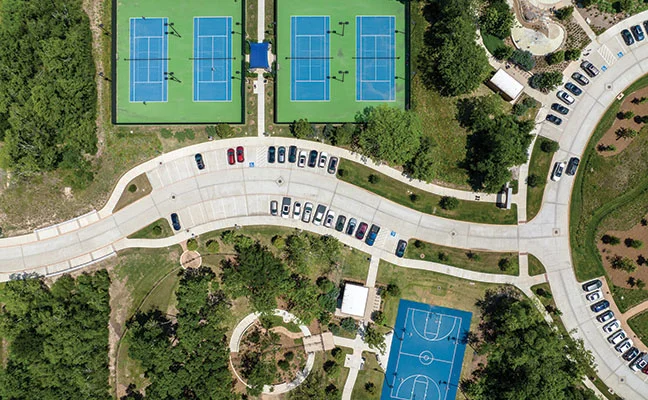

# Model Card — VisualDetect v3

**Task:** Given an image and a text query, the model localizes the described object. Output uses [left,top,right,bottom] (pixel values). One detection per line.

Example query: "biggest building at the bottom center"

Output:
[342,282,368,316]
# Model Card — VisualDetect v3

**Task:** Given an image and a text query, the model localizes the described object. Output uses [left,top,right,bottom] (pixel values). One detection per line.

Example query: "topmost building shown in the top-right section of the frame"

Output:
[489,68,525,99]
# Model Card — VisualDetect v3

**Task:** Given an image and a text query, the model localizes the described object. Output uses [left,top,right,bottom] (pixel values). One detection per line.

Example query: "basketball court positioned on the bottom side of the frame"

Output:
[382,297,473,400]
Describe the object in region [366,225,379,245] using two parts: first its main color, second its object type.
blue vehicle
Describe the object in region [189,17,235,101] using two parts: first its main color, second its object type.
blue tennis court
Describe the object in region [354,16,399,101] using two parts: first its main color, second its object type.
blue tennis court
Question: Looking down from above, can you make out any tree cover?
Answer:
Yes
